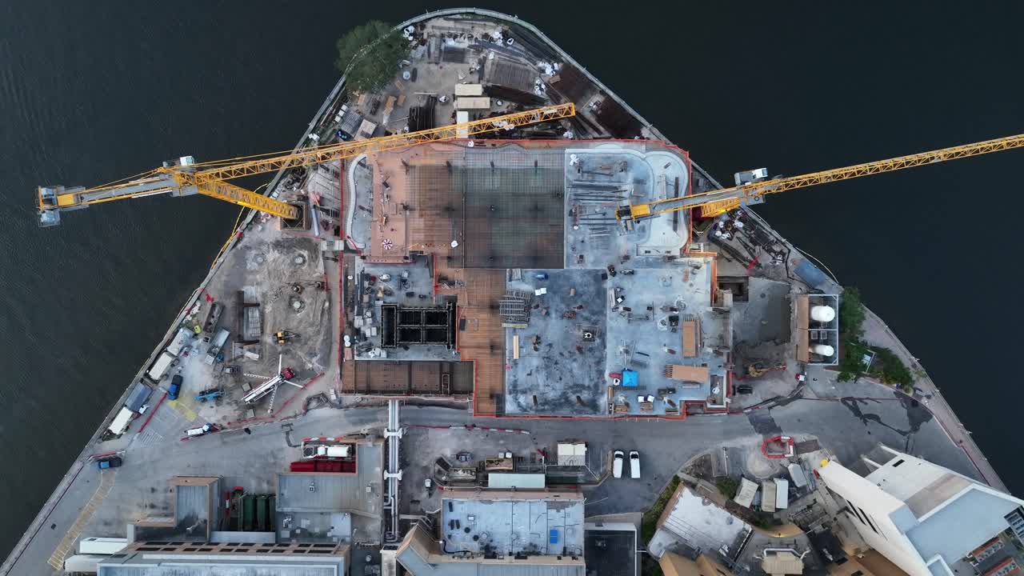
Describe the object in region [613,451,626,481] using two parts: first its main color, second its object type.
white vehicle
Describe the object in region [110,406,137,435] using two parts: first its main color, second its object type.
white truck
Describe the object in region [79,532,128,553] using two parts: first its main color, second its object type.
white trailer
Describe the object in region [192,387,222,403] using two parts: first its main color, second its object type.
blue work vehicle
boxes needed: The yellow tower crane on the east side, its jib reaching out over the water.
[625,134,1024,233]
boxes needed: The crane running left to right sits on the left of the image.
[36,102,576,227]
